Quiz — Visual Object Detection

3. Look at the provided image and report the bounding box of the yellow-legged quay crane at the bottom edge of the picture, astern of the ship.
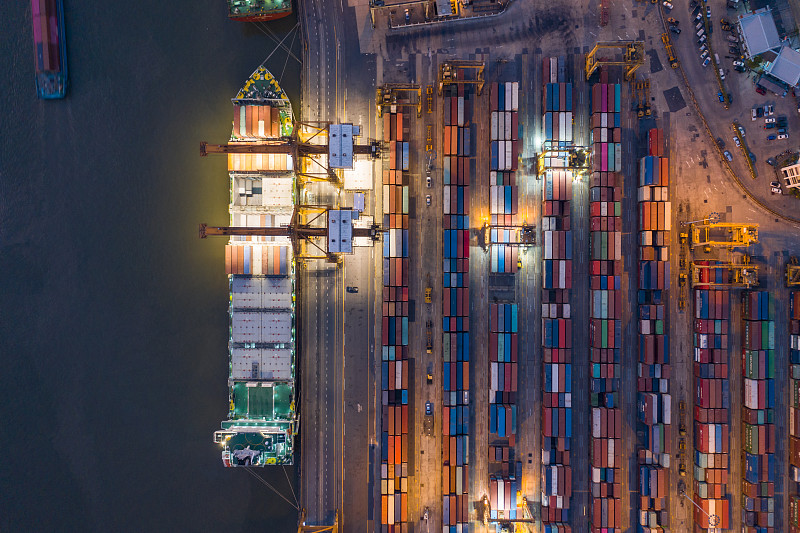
[295,509,338,533]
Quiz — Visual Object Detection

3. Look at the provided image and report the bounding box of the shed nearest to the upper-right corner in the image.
[765,0,797,38]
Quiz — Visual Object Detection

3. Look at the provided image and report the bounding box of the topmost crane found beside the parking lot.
[588,41,651,84]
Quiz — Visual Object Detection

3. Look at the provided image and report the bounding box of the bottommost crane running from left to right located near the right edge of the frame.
[690,259,760,291]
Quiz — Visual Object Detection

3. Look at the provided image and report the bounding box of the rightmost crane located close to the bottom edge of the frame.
[483,492,539,533]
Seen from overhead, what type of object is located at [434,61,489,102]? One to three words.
container crane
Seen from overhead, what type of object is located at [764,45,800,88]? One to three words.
building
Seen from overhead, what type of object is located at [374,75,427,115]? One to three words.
container crane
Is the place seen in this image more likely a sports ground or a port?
port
